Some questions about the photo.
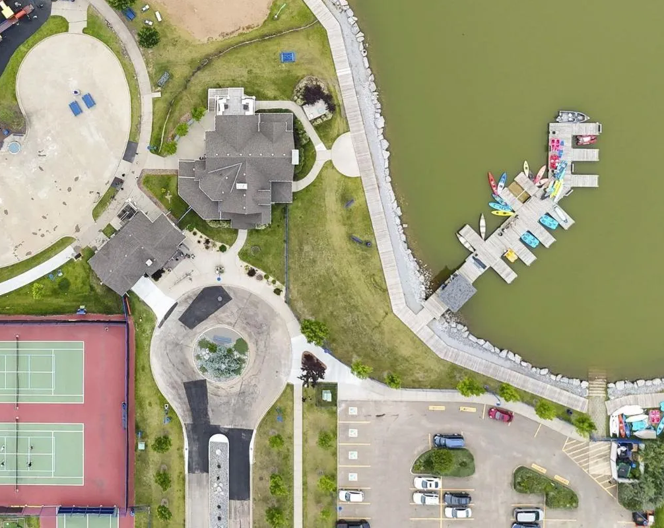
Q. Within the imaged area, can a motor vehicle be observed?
Yes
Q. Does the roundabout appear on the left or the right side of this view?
left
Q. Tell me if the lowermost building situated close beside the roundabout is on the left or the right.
left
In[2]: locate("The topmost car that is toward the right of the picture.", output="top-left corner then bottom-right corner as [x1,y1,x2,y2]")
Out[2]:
[486,406,514,423]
